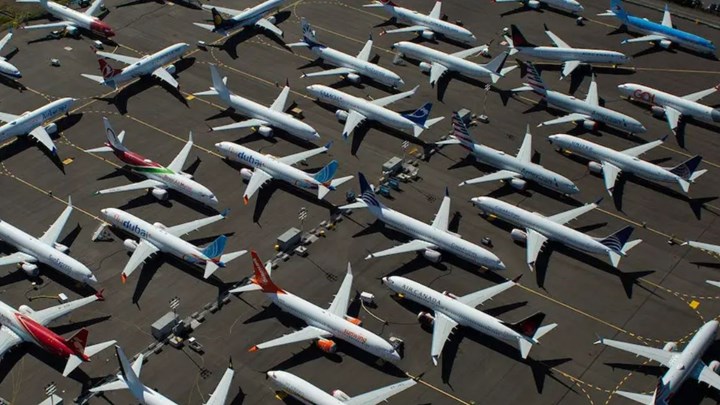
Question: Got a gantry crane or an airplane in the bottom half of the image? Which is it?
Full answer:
Looking in the bottom half of the image, you will find an airplane.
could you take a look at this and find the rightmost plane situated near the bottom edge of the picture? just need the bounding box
[596,319,720,405]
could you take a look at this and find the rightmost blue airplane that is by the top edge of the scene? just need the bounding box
[598,0,716,53]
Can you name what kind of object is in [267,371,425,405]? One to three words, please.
airplane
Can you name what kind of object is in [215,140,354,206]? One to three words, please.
airplane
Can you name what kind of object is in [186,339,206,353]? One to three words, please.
vehicle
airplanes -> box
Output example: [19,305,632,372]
[596,319,720,405]
[503,23,630,79]
[101,207,248,286]
[80,43,193,91]
[598,0,716,53]
[550,134,708,197]
[193,0,288,39]
[227,250,400,360]
[285,18,404,89]
[0,196,97,283]
[0,288,118,378]
[492,0,582,14]
[473,196,643,271]
[435,110,579,195]
[267,371,425,405]
[83,117,219,206]
[16,0,116,41]
[511,60,646,135]
[338,171,506,271]
[309,84,445,139]
[215,140,354,206]
[362,0,476,44]
[0,96,76,155]
[192,63,320,141]
[618,83,720,134]
[394,40,518,89]
[384,274,558,365]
